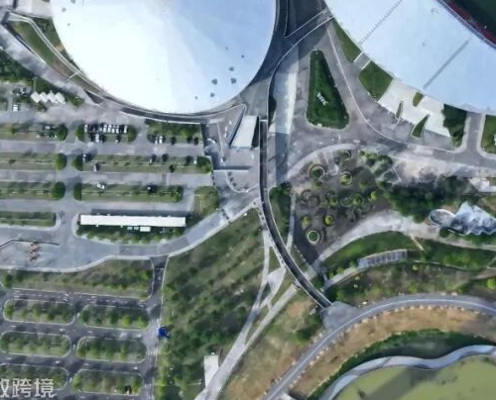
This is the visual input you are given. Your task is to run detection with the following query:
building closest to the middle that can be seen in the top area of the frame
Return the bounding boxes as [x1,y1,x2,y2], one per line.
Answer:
[230,116,258,148]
